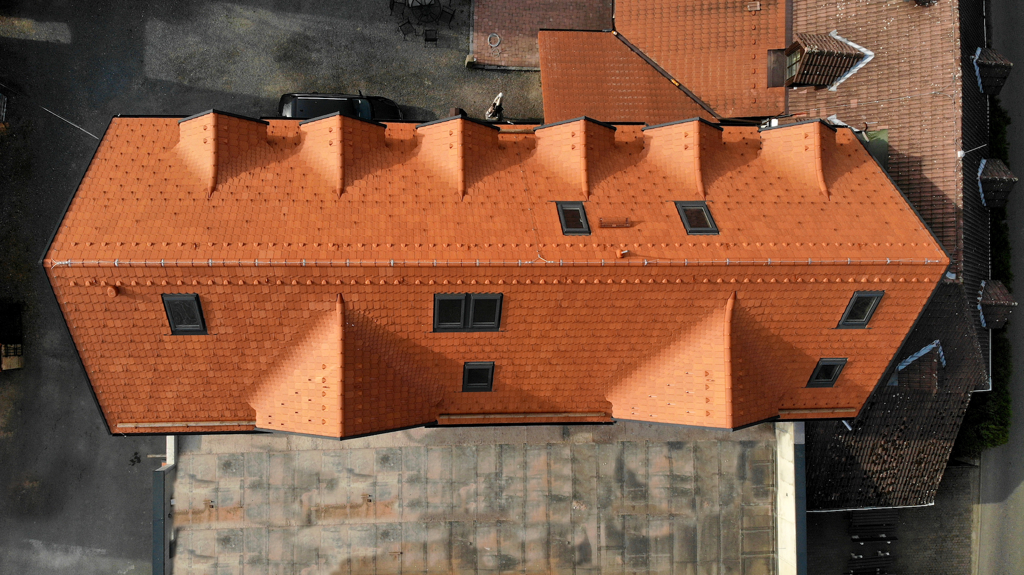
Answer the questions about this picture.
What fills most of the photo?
buildings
